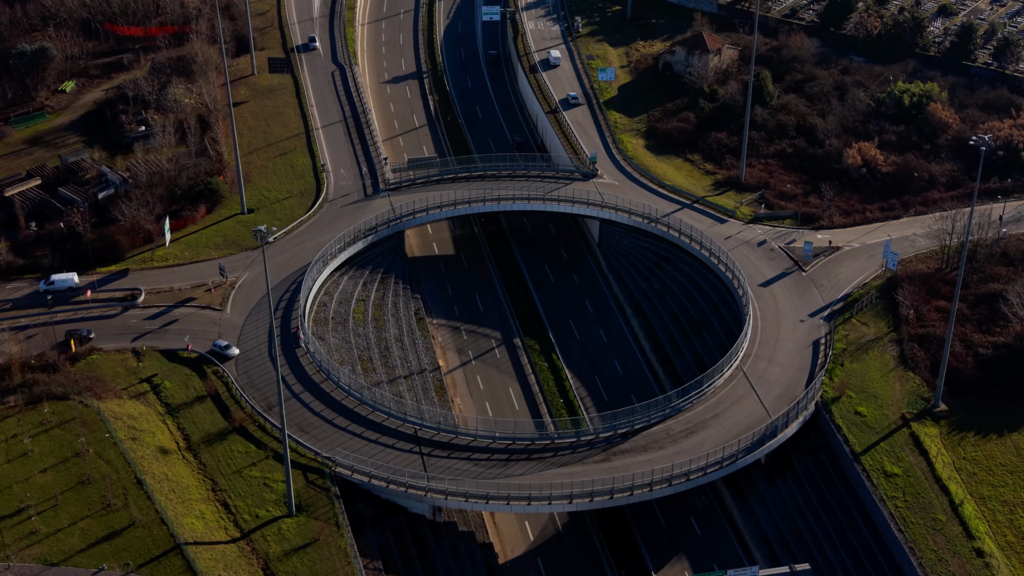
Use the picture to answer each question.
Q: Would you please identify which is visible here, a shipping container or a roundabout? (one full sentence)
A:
Visible in the photo is a roundabout.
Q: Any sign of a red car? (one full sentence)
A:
No, no red car is visible in the scene.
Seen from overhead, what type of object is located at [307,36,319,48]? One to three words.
vehicle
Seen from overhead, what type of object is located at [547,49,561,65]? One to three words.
vehicle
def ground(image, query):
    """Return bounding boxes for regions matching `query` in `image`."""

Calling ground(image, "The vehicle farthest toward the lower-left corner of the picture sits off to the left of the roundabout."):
[59,330,98,348]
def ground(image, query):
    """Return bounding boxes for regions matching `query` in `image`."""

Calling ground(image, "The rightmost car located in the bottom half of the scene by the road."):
[210,340,241,362]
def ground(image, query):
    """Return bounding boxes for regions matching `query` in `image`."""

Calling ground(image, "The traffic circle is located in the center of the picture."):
[219,173,831,497]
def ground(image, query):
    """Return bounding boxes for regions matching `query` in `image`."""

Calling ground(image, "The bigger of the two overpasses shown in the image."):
[330,334,832,522]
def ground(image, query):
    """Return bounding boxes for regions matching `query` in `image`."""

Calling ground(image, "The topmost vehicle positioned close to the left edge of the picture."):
[39,273,80,296]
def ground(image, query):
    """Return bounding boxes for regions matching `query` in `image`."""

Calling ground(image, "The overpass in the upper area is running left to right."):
[388,170,607,224]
